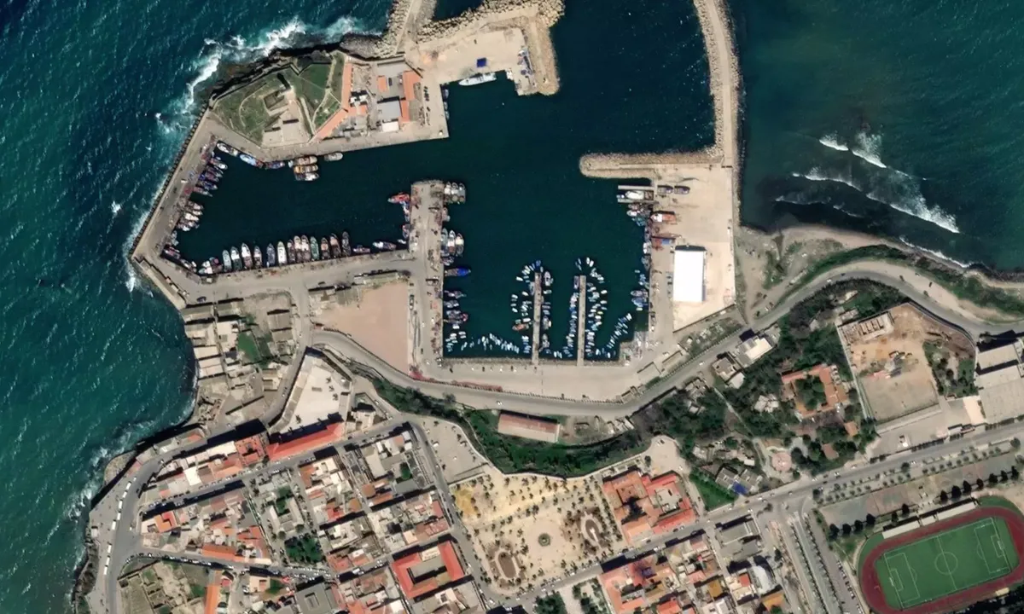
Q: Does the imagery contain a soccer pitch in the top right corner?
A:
No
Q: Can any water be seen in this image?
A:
Yes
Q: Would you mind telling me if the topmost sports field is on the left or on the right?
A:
right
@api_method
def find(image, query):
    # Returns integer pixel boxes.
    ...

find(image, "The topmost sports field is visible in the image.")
[861,368,938,422]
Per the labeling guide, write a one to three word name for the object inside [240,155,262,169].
boat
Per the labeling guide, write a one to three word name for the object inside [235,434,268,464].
house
